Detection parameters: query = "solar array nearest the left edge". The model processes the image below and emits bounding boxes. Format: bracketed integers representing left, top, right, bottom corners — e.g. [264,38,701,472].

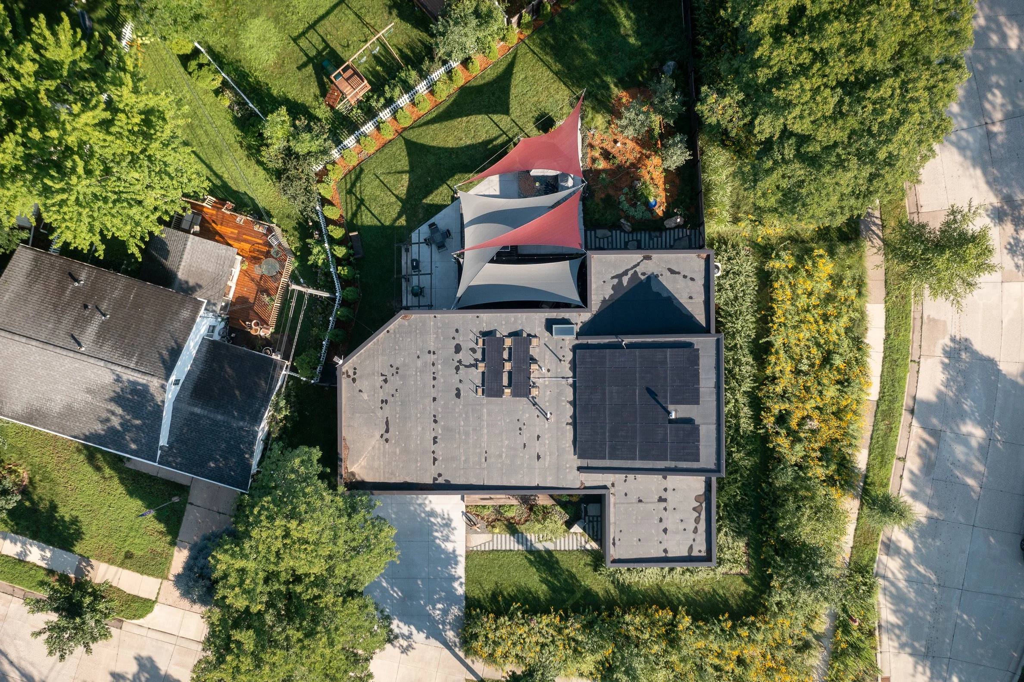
[477,337,539,397]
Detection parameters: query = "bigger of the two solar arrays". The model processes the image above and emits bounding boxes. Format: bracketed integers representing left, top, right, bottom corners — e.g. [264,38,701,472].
[576,350,698,463]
